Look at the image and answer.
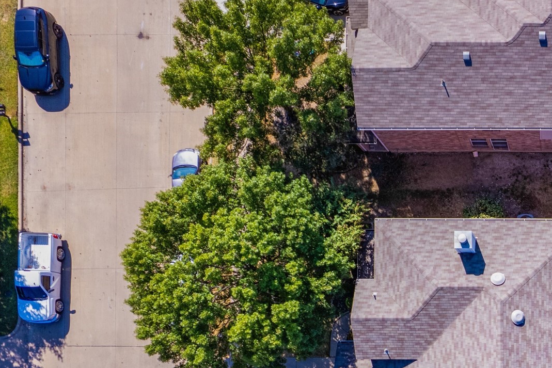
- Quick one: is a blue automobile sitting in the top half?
Yes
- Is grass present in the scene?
Yes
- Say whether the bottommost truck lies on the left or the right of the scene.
left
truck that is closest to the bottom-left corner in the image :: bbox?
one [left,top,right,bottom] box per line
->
[12,231,65,323]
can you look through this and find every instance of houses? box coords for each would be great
[334,217,552,368]
[342,0,552,153]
